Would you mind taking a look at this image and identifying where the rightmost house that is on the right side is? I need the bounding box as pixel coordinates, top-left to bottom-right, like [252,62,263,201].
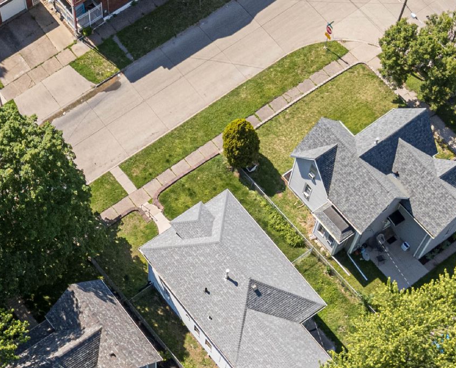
[281,107,456,280]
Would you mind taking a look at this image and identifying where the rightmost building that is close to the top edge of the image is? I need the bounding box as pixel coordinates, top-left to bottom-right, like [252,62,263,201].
[47,0,136,38]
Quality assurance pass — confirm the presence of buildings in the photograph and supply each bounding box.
[0,0,34,26]
[47,0,136,38]
[0,279,163,368]
[137,189,350,368]
[281,107,456,280]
